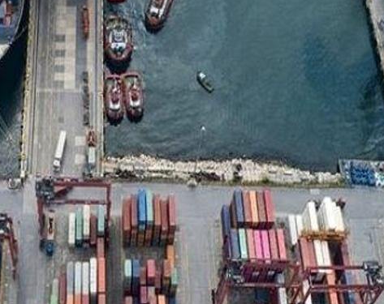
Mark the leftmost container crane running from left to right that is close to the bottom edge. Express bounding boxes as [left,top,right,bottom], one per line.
[211,260,309,304]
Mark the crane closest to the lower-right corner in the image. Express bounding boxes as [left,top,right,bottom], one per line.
[288,261,384,304]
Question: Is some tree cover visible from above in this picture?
No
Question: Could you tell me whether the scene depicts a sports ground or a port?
port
